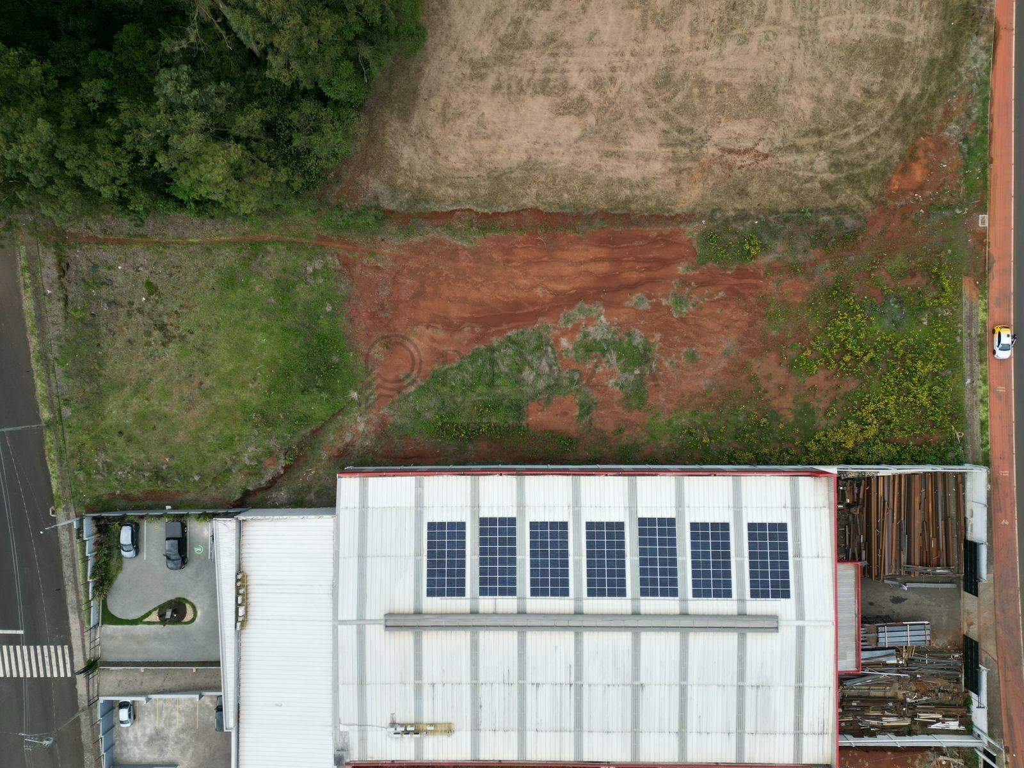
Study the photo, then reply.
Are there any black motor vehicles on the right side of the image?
No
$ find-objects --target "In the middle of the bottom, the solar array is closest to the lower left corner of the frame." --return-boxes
[427,520,466,598]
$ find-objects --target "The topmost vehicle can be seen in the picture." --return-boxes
[991,324,1019,359]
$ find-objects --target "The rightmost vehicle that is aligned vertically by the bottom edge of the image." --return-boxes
[213,697,232,736]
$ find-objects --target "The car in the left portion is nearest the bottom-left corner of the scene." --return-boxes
[115,703,136,729]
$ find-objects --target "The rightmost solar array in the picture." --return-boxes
[748,521,790,600]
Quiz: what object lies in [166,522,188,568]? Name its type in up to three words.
truck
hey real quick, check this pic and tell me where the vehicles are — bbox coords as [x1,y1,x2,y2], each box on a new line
[118,523,139,558]
[166,522,188,568]
[213,697,232,736]
[991,324,1019,359]
[115,703,136,729]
